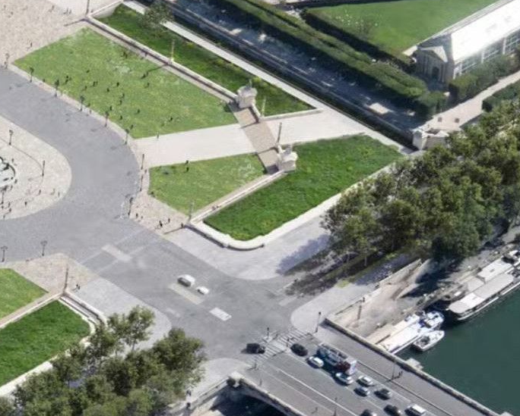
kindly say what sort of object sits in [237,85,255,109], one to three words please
building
